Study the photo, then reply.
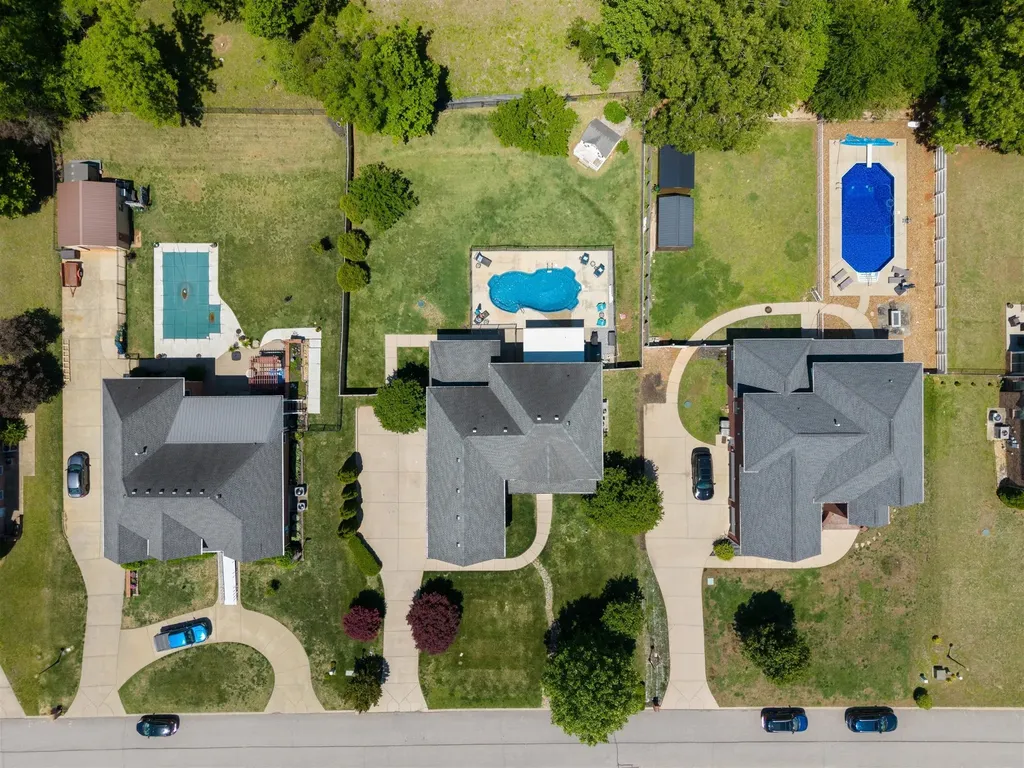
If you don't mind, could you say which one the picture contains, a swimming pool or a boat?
swimming pool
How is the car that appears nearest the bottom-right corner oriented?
from side to side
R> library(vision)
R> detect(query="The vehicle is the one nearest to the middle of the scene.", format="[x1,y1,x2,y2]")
[691,448,716,499]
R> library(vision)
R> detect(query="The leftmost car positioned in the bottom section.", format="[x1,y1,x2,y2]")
[64,451,90,498]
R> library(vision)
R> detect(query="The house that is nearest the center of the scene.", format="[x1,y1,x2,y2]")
[426,339,604,569]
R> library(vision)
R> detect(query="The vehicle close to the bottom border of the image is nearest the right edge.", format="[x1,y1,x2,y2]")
[846,709,897,735]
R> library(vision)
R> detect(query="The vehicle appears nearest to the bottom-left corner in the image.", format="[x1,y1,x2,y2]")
[136,716,178,740]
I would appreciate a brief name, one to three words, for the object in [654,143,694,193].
shed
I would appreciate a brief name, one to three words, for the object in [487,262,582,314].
swimming pool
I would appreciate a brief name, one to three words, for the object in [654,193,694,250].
shed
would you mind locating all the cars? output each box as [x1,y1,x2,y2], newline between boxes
[691,448,716,499]
[762,709,807,734]
[846,709,897,735]
[136,716,178,740]
[64,451,90,498]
